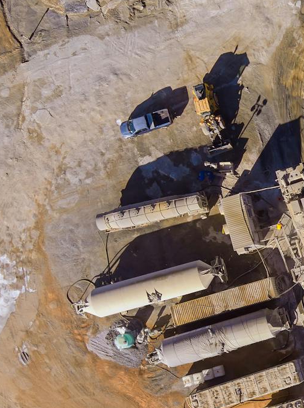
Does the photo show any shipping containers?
Yes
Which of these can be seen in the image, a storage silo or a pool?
storage silo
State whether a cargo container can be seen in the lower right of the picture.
Yes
